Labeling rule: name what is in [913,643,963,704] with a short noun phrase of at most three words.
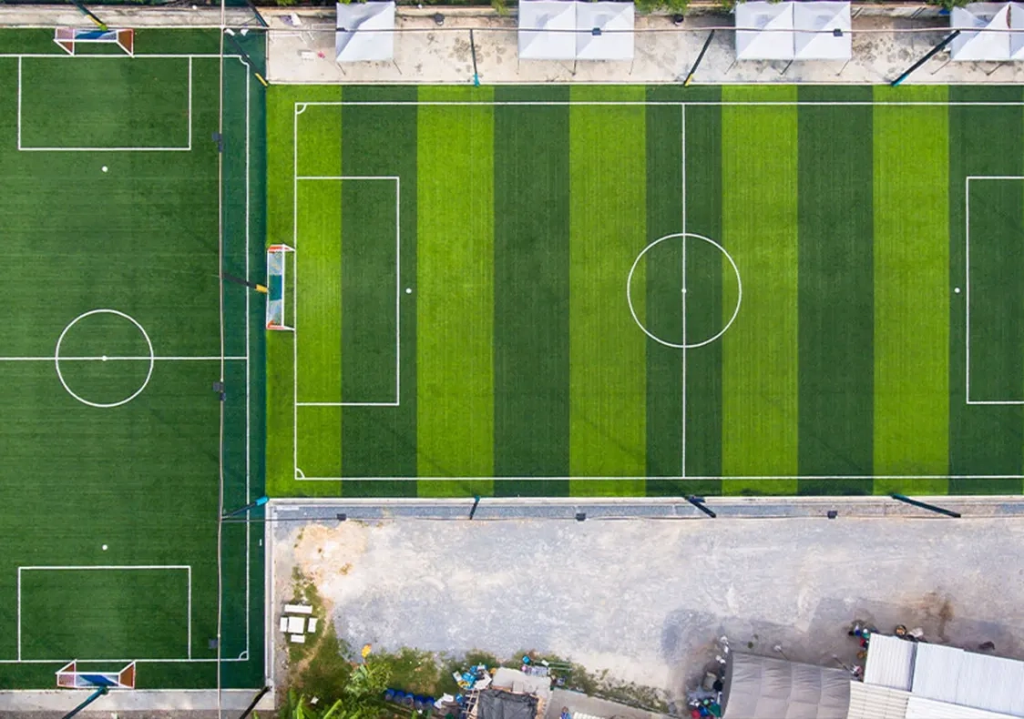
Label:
shed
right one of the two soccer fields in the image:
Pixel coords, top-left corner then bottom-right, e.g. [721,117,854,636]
[266,86,1024,498]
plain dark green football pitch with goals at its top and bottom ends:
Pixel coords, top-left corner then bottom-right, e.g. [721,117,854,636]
[0,27,263,689]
